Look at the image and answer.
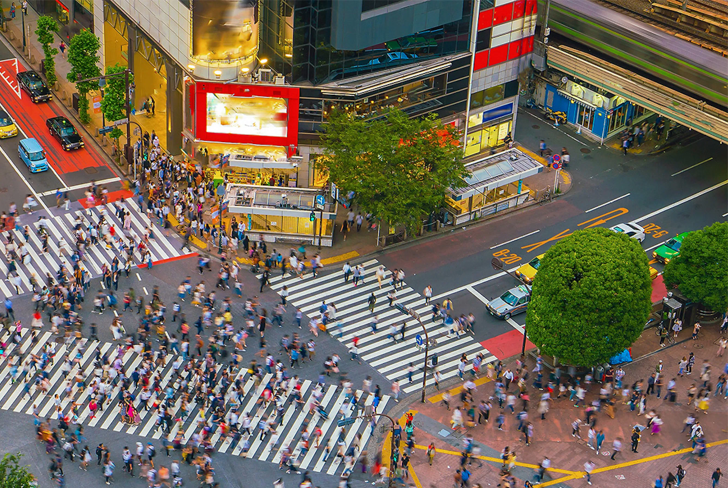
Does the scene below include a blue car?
Yes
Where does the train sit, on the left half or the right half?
right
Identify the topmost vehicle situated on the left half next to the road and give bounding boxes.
[16,70,53,103]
